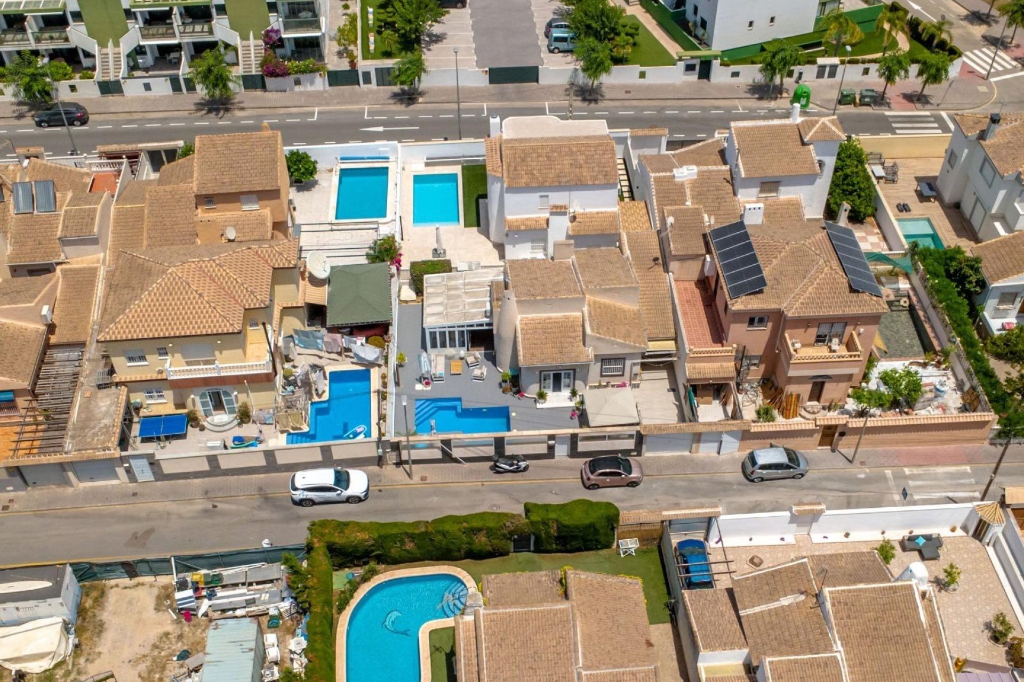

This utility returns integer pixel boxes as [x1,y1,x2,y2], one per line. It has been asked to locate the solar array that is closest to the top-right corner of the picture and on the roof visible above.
[822,220,883,306]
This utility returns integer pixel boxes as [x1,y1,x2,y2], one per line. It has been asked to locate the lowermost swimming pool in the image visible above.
[337,565,478,682]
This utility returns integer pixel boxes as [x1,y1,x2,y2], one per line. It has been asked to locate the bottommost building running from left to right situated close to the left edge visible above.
[0,440,126,489]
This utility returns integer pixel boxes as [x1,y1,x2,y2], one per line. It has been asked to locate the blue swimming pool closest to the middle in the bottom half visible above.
[415,397,510,433]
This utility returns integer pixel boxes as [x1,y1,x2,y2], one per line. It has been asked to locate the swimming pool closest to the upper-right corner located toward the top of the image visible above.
[894,215,942,252]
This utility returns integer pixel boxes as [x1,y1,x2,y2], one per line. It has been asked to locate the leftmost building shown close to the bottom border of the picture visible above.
[457,570,658,682]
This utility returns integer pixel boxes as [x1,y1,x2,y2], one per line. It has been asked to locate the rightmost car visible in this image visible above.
[742,444,813,483]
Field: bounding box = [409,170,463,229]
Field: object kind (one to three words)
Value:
swimming pool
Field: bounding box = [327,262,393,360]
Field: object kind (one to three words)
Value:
building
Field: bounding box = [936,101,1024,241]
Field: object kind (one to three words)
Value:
house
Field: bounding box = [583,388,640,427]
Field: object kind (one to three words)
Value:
gazebo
